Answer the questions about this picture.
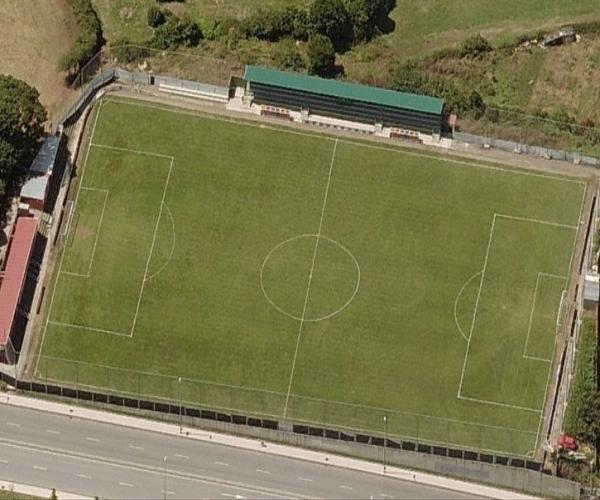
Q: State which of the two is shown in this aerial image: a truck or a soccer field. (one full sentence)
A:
Visible in the photo is a soccer field.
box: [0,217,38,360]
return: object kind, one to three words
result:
building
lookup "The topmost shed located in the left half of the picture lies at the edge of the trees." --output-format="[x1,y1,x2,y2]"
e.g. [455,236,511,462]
[29,137,61,185]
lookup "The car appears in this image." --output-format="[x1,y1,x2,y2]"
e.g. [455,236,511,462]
[558,435,577,448]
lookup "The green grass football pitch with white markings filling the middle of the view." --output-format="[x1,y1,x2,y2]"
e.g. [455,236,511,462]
[29,94,589,460]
